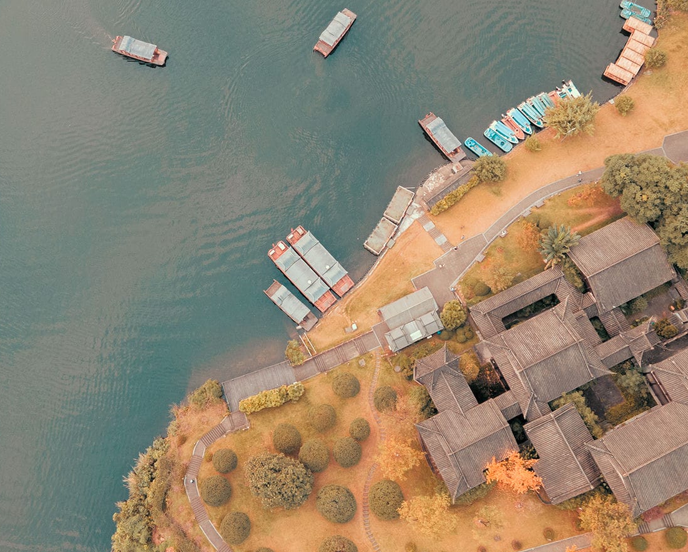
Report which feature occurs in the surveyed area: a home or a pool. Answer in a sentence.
The image shows a home.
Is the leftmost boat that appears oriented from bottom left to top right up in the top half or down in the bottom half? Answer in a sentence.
You can find the leftmost boat that appears oriented from bottom left to top right in the top half.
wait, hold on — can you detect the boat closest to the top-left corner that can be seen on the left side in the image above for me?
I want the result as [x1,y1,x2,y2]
[110,33,168,63]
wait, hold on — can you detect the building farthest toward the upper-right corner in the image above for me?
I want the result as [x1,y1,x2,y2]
[566,217,675,313]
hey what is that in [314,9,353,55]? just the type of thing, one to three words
boat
